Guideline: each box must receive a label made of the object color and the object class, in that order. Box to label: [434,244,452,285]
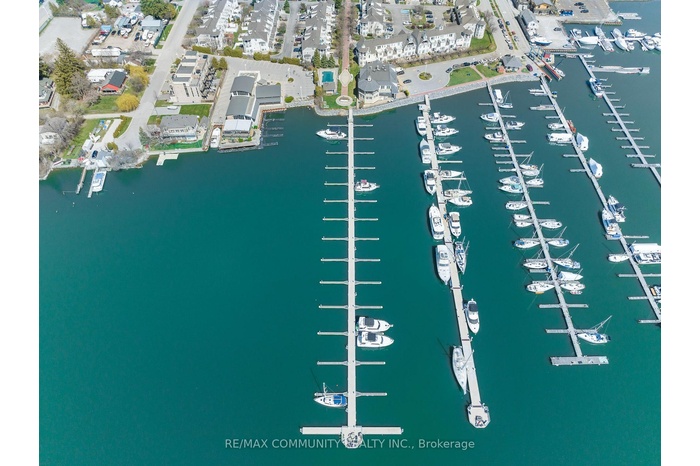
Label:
white boat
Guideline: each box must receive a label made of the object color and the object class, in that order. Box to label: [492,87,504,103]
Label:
white boat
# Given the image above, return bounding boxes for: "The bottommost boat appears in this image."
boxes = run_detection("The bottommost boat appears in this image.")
[314,389,346,407]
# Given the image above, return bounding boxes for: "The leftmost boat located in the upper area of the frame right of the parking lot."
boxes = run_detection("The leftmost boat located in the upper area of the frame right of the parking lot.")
[315,124,349,139]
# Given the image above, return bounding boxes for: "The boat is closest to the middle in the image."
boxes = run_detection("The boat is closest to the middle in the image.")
[354,179,380,192]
